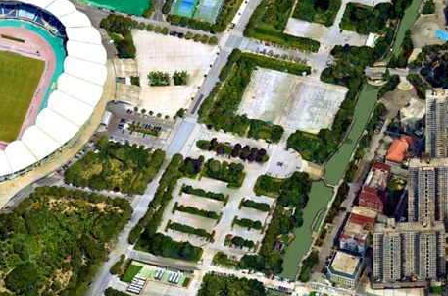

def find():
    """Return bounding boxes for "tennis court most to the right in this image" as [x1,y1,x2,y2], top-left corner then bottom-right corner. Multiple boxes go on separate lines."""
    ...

[193,0,224,23]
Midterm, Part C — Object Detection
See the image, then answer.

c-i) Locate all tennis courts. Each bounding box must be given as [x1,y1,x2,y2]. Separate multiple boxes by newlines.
[170,0,199,19]
[193,0,224,23]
